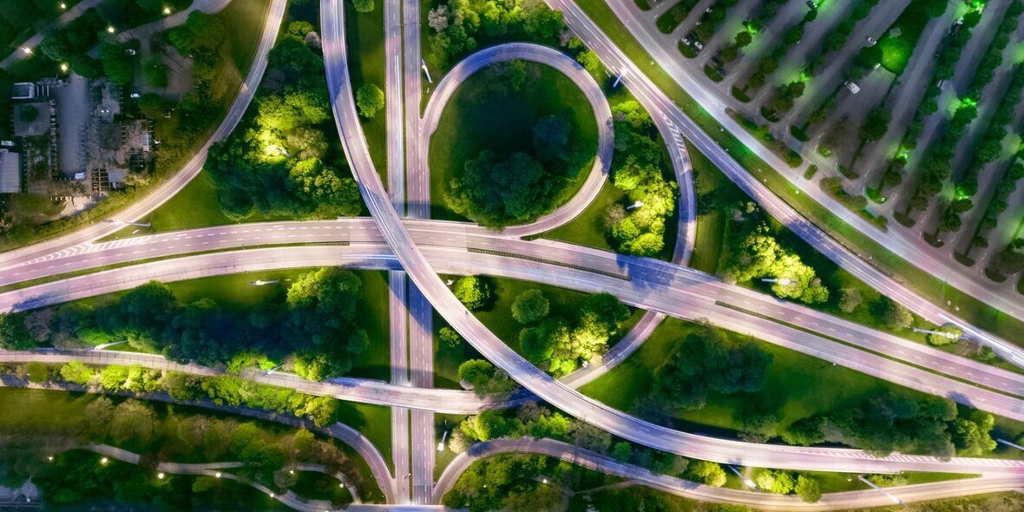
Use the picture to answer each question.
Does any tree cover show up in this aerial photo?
Yes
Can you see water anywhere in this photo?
No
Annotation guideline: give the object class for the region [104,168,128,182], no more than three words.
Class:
shed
